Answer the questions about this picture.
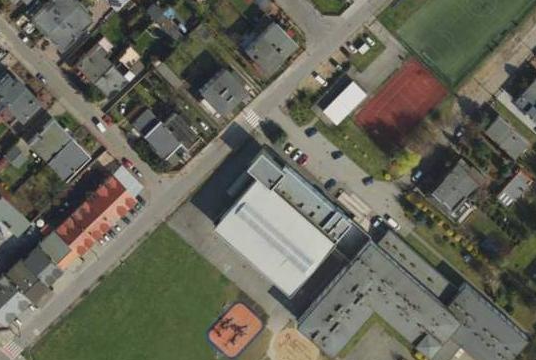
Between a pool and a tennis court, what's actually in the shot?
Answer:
tennis court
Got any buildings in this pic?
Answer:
Yes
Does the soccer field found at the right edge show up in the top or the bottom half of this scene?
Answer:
top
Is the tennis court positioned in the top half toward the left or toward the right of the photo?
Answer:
right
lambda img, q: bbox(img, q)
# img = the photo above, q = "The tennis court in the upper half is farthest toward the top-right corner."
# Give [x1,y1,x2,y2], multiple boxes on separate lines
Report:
[353,60,448,147]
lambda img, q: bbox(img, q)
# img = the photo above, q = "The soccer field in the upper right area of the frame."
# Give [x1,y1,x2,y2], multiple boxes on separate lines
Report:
[392,0,536,90]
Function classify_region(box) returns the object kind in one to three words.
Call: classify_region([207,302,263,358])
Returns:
playground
